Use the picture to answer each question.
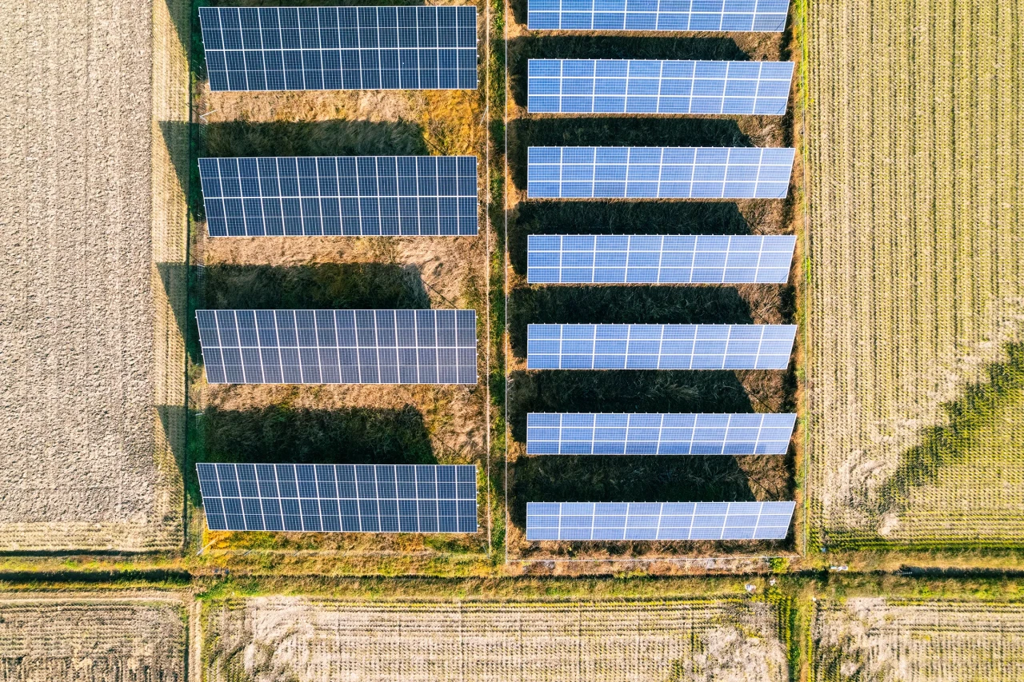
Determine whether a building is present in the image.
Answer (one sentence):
No, I find no building anywhere in the image.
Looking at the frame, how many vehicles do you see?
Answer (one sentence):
No vehicles are visible.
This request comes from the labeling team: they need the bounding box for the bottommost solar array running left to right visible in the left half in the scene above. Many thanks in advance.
[198,462,479,532]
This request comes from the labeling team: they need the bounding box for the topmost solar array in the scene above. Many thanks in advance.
[527,0,791,32]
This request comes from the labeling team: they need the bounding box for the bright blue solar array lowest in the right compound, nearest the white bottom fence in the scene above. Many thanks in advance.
[527,497,795,540]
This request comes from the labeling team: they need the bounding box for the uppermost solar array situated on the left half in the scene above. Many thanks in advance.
[198,6,481,91]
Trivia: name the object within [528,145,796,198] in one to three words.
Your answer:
solar array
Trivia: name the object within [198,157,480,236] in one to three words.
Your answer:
solar array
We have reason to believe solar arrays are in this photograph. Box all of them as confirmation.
[196,311,479,384]
[527,0,791,32]
[198,462,479,532]
[528,411,796,455]
[528,57,796,115]
[528,323,796,369]
[528,234,796,284]
[528,145,796,198]
[527,497,795,540]
[198,157,480,236]
[198,6,481,91]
